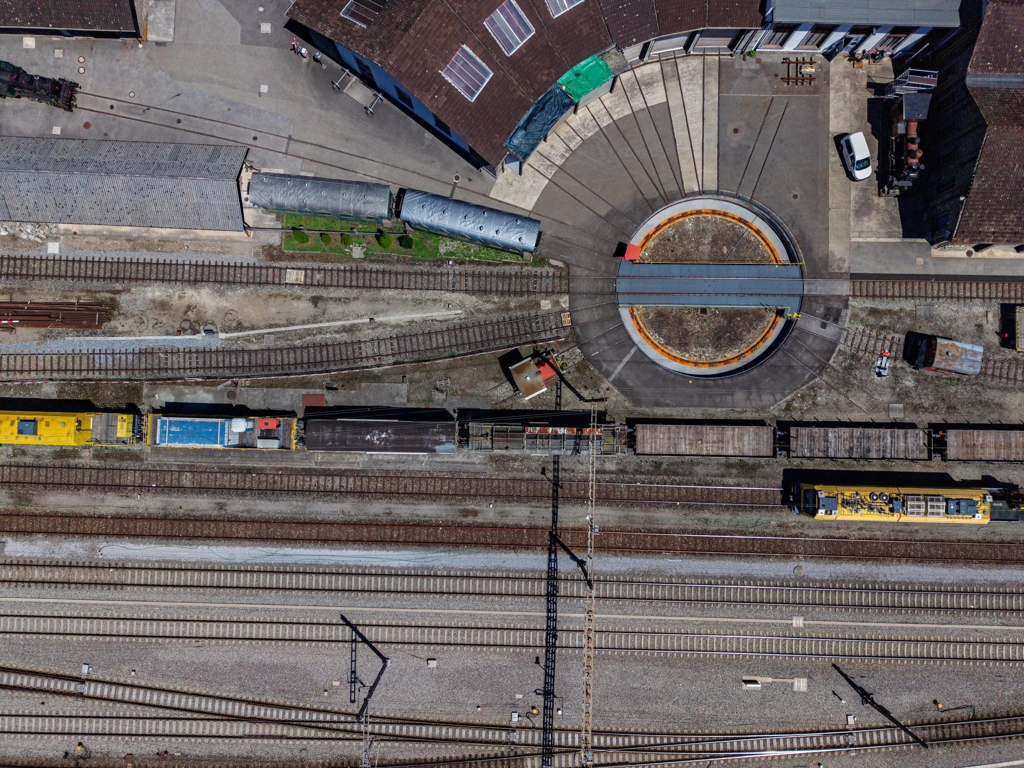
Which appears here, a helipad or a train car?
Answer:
train car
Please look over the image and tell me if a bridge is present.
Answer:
Yes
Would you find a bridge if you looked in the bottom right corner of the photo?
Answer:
No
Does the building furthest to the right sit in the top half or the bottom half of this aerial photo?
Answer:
top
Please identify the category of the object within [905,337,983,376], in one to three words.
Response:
rail car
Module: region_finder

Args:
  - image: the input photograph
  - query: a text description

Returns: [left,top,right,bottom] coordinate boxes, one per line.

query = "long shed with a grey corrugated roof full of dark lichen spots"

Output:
[0,136,268,236]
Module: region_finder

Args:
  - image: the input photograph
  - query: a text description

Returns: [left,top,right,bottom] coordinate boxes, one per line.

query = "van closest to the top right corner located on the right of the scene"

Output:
[839,130,873,185]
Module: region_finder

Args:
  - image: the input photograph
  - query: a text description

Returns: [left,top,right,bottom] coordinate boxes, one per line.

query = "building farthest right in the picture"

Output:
[924,0,1024,245]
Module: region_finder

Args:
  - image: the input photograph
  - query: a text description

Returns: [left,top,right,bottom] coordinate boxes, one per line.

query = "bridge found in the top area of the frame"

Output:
[617,235,803,321]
